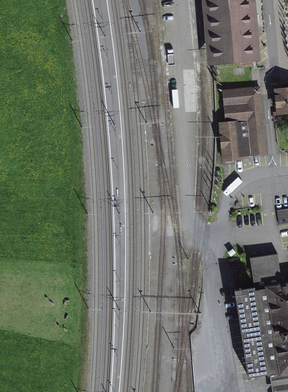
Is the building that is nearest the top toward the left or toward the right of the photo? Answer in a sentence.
You can find the building that is nearest the top on the right side of the picture.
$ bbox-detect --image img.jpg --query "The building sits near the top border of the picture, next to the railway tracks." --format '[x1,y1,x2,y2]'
[202,0,260,65]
